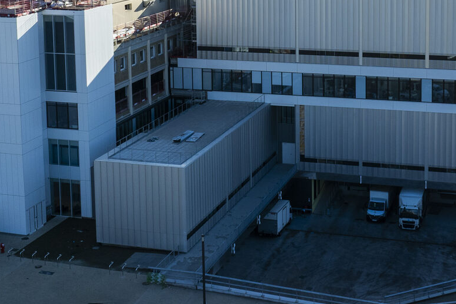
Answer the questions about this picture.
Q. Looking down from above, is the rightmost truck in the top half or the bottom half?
bottom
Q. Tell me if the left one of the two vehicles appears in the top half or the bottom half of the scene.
bottom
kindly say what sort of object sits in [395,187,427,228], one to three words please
truck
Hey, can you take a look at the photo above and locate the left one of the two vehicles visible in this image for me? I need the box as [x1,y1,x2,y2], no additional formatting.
[367,185,394,219]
